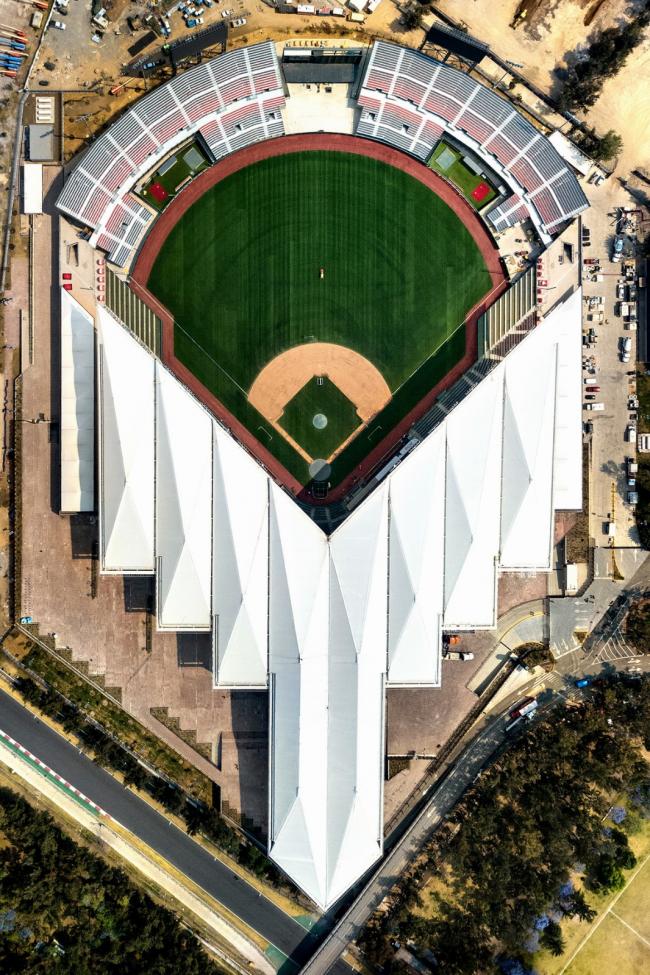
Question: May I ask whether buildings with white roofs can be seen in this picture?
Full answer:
Yes, a building with a white roof can be made out from above.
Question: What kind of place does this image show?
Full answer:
It's a sports ground.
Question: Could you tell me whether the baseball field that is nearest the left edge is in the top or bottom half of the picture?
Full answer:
The baseball field that is nearest the left edge sits in the top half of the picture.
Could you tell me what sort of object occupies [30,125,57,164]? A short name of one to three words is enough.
building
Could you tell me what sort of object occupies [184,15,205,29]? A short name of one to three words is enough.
vehicle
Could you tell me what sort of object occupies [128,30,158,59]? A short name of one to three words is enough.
shed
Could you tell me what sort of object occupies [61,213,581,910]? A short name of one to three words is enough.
stadium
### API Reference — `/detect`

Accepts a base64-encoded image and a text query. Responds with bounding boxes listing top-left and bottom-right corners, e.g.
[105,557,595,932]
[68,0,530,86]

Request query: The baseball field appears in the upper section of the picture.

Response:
[129,134,509,506]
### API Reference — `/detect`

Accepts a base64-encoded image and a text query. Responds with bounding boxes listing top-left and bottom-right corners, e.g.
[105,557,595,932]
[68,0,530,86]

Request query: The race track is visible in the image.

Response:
[0,689,364,975]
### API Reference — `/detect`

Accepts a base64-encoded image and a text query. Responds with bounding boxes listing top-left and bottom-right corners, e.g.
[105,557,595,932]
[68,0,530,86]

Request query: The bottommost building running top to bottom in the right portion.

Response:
[563,563,577,593]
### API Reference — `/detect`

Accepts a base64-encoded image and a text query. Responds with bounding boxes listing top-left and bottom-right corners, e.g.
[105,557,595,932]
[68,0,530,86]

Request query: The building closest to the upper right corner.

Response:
[545,131,592,178]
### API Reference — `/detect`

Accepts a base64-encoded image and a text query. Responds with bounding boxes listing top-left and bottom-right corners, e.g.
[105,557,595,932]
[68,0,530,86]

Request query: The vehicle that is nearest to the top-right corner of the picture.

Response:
[515,7,529,28]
